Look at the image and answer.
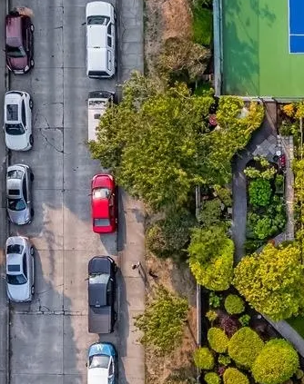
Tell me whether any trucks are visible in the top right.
No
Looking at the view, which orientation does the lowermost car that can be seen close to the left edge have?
up and down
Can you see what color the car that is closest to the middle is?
red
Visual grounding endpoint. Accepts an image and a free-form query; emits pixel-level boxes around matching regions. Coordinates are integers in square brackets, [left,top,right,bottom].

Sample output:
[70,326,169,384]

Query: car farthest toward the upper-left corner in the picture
[2,12,36,74]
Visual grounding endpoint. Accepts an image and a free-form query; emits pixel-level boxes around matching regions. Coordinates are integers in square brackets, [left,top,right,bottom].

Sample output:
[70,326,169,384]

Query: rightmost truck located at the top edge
[83,2,116,78]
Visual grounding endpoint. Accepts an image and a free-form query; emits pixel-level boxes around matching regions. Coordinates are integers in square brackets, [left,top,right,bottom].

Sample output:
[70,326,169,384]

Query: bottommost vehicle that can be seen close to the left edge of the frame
[3,235,37,302]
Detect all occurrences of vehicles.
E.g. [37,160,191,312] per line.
[84,342,118,384]
[87,174,119,234]
[2,12,36,74]
[3,235,37,302]
[84,90,117,142]
[84,256,118,334]
[2,90,35,151]
[83,2,116,78]
[2,164,36,225]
